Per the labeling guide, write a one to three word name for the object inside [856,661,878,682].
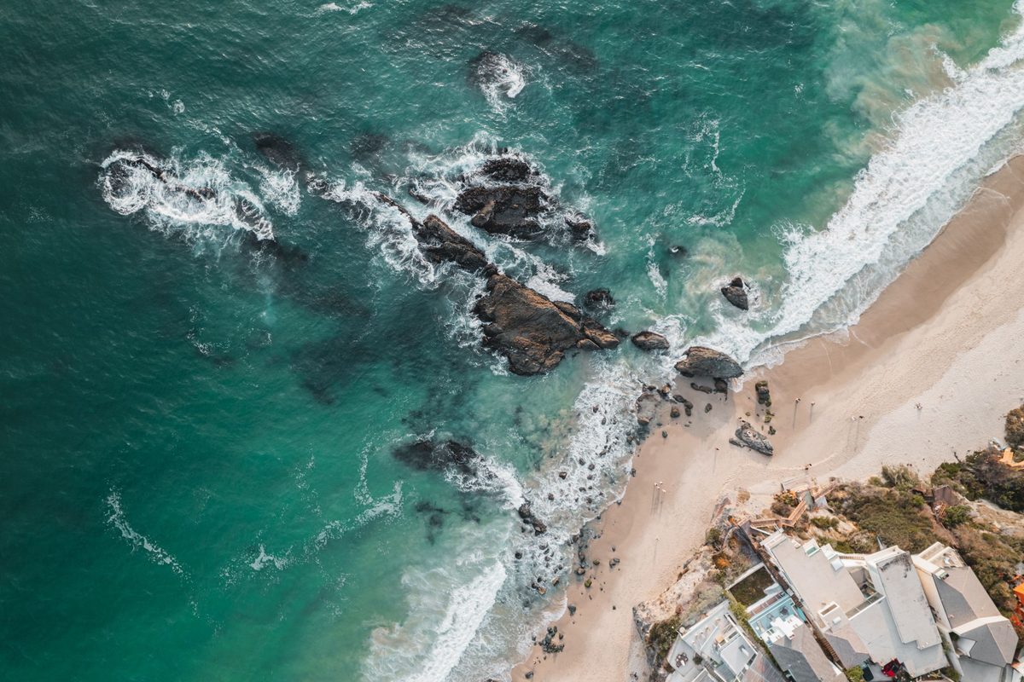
car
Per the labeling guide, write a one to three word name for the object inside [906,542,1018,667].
house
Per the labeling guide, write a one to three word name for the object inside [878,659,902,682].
car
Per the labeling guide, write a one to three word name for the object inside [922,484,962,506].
shed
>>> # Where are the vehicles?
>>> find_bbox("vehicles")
[878,659,902,682]
[856,661,878,682]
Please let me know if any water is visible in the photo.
Yes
